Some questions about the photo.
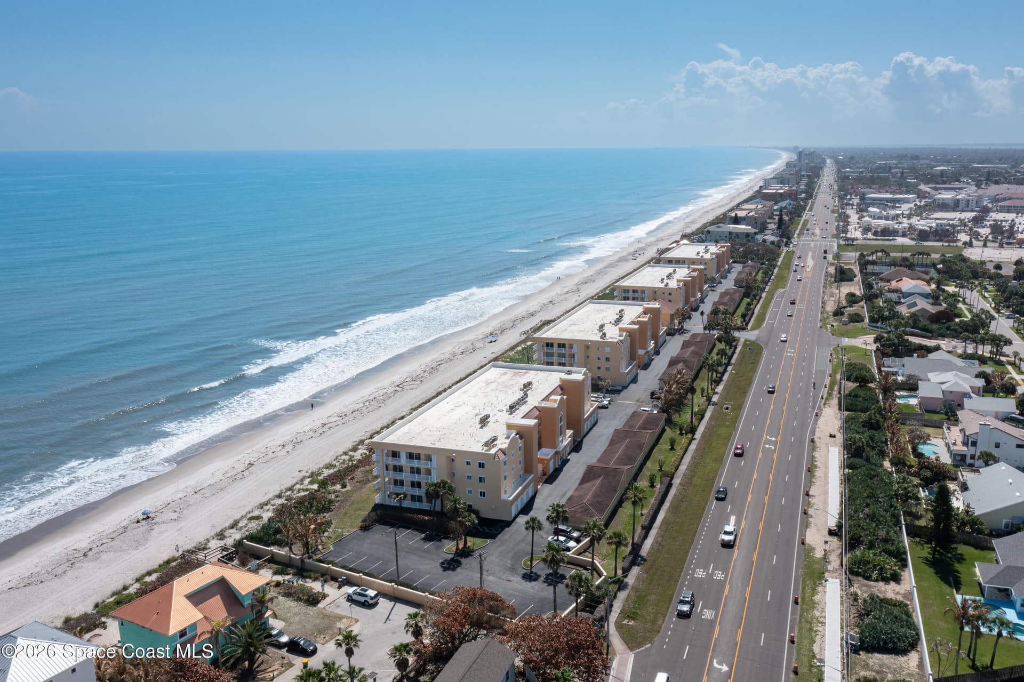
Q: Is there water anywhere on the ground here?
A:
Yes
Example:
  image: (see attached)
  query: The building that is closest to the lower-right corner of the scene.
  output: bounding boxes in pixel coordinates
[974,537,1024,617]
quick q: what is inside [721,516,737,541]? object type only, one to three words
vehicle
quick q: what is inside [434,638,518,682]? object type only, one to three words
house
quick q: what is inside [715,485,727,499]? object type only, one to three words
vehicle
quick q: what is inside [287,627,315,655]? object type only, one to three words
car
